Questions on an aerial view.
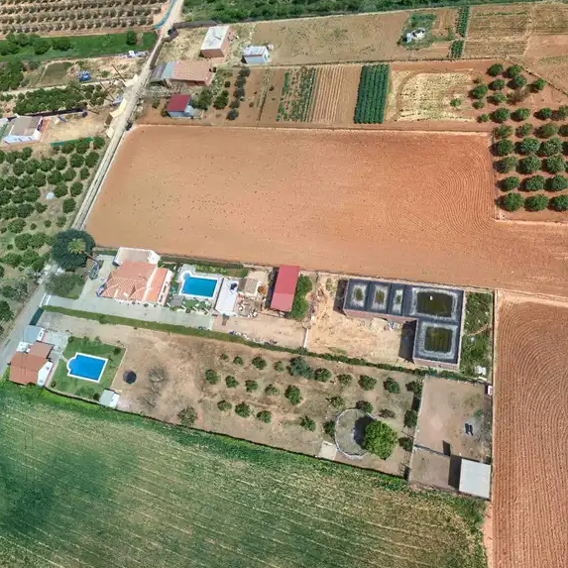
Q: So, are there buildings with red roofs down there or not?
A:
Yes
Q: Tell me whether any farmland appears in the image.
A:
Yes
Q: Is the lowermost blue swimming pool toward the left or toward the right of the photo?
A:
left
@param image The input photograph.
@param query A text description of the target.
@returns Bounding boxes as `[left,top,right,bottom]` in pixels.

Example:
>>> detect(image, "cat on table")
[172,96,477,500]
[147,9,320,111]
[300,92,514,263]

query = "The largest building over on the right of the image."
[344,279,464,369]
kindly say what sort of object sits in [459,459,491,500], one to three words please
shed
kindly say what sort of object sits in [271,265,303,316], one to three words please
shed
